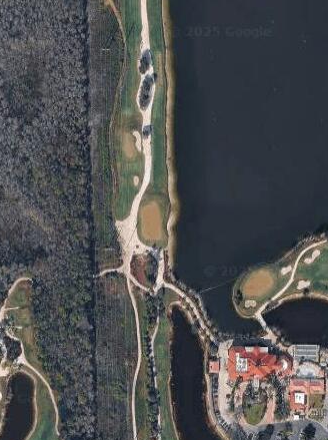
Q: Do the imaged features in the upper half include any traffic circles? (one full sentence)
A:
No, no traffic circle appears in the upper half.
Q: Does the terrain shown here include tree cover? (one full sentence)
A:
Yes, there is tree cover in the image.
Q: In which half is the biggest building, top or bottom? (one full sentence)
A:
The biggest building sits in the bottom half of the picture.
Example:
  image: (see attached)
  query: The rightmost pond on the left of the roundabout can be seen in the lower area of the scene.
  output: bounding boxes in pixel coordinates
[171,302,221,440]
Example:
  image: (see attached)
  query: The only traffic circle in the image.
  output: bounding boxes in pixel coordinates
[235,380,274,431]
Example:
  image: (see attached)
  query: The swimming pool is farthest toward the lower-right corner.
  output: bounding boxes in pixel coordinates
[296,362,319,379]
